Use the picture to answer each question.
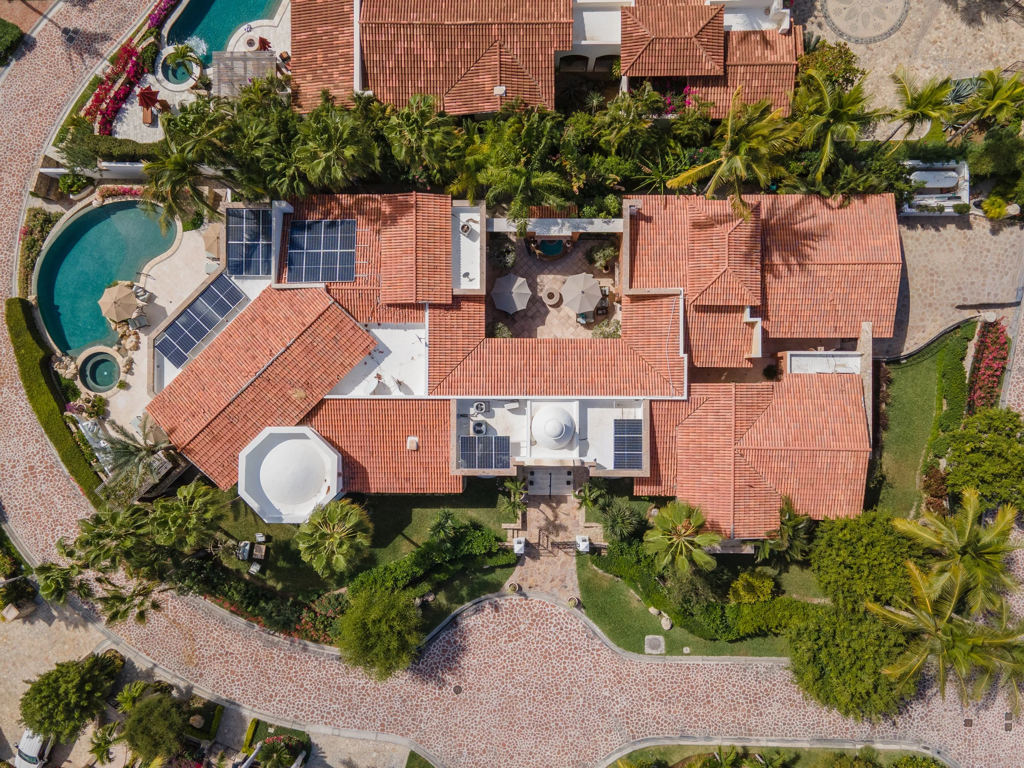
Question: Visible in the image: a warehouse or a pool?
pool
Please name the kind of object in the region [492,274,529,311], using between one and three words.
umbrella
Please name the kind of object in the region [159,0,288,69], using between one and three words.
swimming pool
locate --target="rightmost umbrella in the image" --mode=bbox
[561,272,602,313]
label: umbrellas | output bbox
[256,36,280,64]
[492,274,529,311]
[137,87,163,114]
[199,218,220,259]
[100,283,141,323]
[561,272,602,313]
